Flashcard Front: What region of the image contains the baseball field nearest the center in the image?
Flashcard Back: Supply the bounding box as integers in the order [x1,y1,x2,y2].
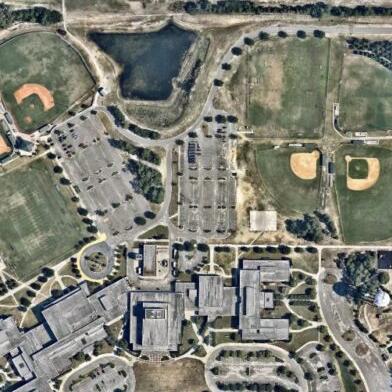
[256,142,325,213]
